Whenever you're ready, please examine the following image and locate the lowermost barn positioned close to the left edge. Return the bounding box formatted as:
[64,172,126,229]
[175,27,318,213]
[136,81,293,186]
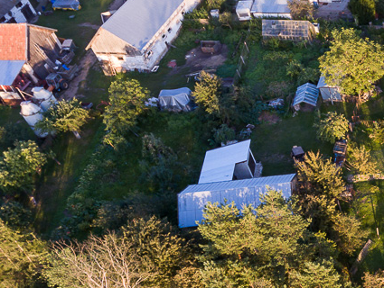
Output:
[0,20,58,94]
